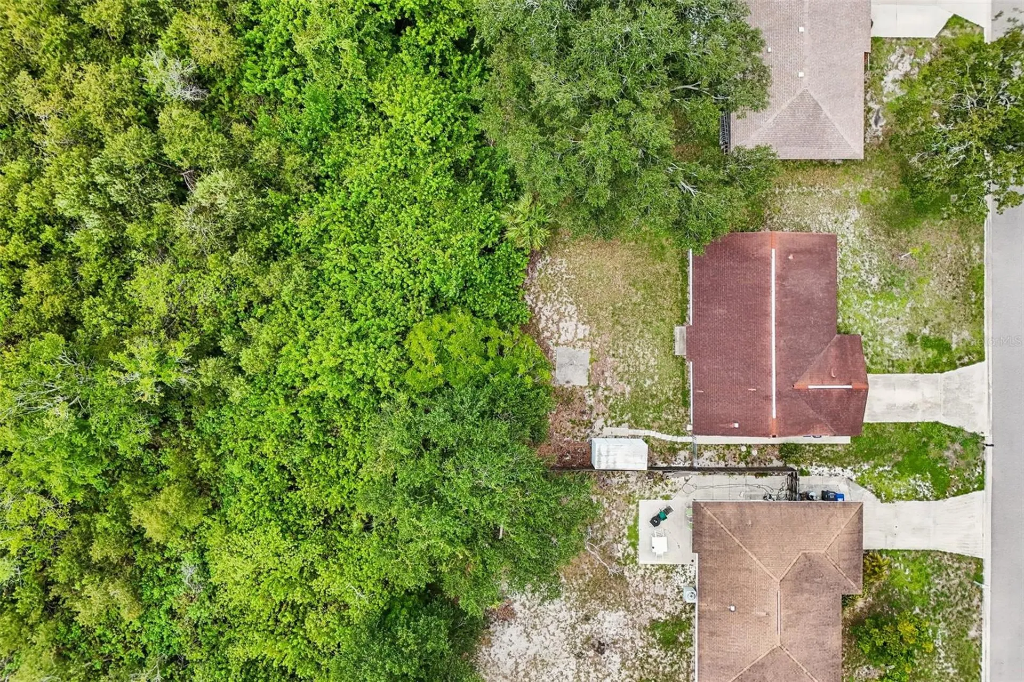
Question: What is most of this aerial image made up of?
trees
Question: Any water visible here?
No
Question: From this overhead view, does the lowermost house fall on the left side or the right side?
right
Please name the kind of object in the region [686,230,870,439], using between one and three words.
house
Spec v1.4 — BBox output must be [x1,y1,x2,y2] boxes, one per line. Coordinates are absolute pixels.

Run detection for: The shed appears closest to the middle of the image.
[592,438,649,470]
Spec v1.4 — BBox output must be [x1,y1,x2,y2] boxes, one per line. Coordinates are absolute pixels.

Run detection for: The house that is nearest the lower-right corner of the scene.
[692,499,863,682]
